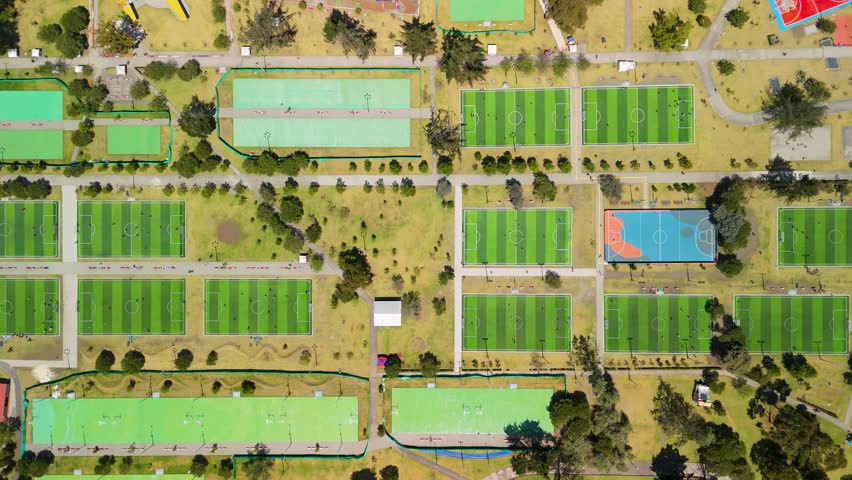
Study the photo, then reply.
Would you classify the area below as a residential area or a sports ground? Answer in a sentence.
The picture captures a sports ground.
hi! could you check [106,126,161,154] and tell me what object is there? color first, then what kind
green sports field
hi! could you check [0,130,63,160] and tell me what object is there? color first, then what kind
green sports field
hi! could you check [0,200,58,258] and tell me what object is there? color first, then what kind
green soccer field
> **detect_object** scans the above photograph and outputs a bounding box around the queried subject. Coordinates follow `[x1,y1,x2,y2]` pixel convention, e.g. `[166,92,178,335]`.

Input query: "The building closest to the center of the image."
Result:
[374,300,401,326]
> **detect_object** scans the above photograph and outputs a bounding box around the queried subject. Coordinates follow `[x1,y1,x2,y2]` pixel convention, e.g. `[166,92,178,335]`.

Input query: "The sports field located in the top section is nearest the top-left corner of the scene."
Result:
[0,91,63,120]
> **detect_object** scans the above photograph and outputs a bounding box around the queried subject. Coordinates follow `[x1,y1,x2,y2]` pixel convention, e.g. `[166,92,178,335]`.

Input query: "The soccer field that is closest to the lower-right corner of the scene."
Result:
[734,295,850,354]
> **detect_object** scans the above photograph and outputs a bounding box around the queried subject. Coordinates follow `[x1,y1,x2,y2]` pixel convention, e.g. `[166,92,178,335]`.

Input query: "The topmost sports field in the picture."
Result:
[450,0,524,21]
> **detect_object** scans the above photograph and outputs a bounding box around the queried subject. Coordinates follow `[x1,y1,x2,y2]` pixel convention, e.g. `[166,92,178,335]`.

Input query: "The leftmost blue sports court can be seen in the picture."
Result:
[603,210,720,265]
